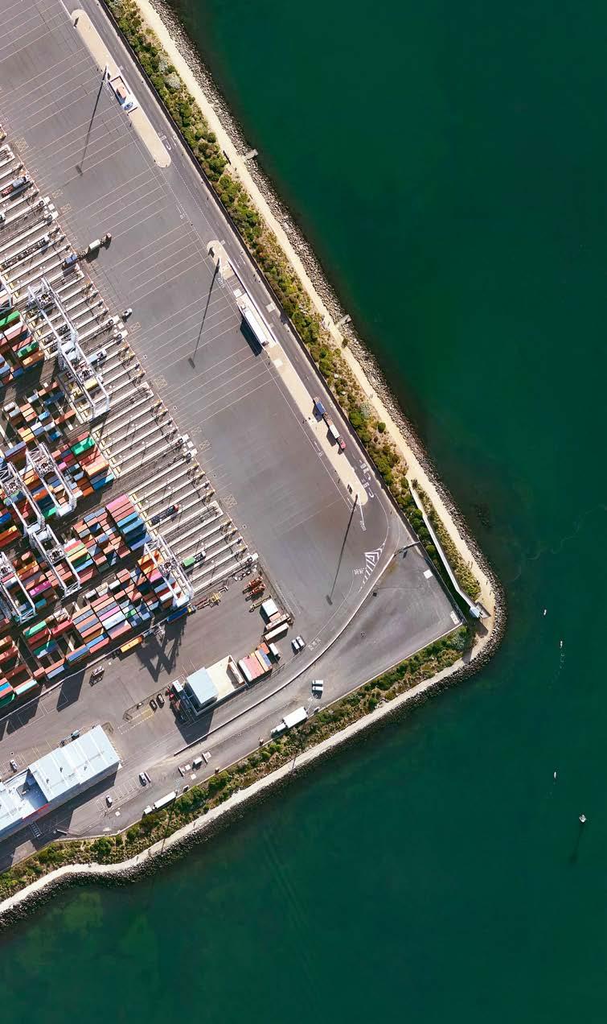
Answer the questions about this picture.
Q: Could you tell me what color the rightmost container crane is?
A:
white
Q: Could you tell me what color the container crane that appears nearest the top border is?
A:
white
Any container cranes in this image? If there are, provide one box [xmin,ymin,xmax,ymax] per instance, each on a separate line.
[141,536,197,611]
[0,552,38,627]
[25,277,81,354]
[0,463,46,540]
[28,523,85,603]
[57,338,113,417]
[22,443,79,520]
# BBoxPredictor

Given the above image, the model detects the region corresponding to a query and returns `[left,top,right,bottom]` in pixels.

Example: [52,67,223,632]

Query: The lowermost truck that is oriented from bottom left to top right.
[143,792,176,815]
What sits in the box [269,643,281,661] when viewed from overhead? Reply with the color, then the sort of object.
white vehicle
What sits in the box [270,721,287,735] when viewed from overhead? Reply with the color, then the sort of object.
white vehicle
